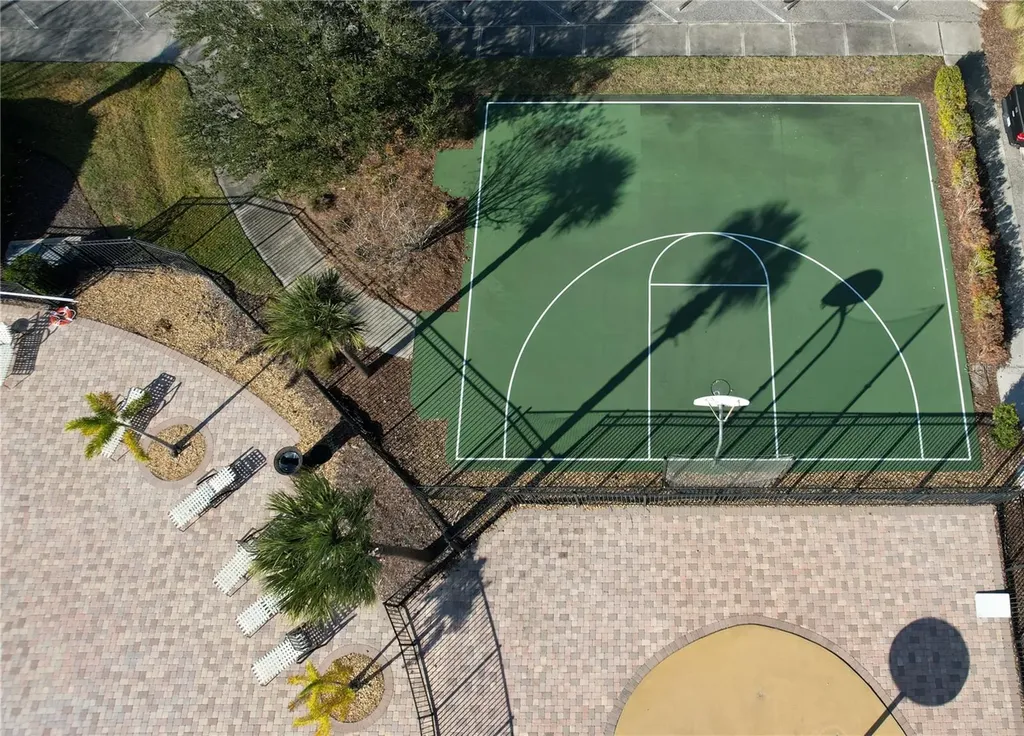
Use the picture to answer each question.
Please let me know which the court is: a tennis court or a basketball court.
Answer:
basketball court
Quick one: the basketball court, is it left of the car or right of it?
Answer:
left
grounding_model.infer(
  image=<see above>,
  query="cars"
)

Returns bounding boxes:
[998,88,1024,152]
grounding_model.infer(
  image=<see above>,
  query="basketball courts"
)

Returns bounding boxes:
[411,95,981,471]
